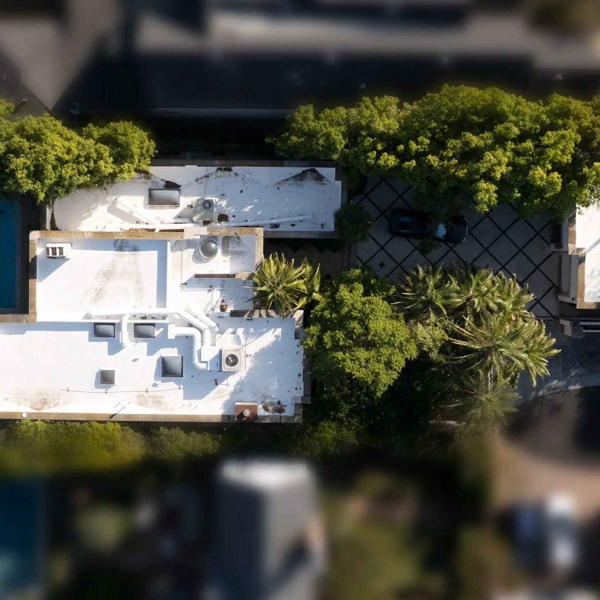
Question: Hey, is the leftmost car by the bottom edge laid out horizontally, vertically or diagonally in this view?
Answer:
vertically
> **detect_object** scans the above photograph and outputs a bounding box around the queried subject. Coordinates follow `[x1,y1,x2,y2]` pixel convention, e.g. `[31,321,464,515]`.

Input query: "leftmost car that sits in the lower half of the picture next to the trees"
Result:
[511,494,551,578]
